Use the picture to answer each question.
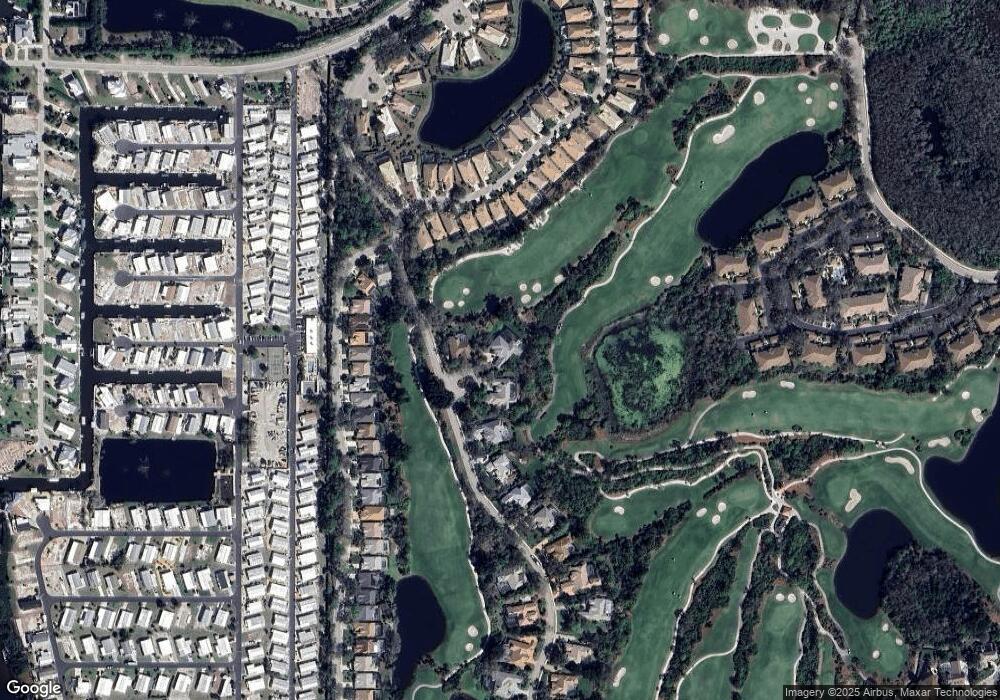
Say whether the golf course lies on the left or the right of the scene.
right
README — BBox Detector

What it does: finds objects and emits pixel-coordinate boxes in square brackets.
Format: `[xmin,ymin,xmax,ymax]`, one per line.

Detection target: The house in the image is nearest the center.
[485,334,521,370]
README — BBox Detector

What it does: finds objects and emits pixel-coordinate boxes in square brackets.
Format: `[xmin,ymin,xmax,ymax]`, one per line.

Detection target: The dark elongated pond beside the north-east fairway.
[697,131,828,249]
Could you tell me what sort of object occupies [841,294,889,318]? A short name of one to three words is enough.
building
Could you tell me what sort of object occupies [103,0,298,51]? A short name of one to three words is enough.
pond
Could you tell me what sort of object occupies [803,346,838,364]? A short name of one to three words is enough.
building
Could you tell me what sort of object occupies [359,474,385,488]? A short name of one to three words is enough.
house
